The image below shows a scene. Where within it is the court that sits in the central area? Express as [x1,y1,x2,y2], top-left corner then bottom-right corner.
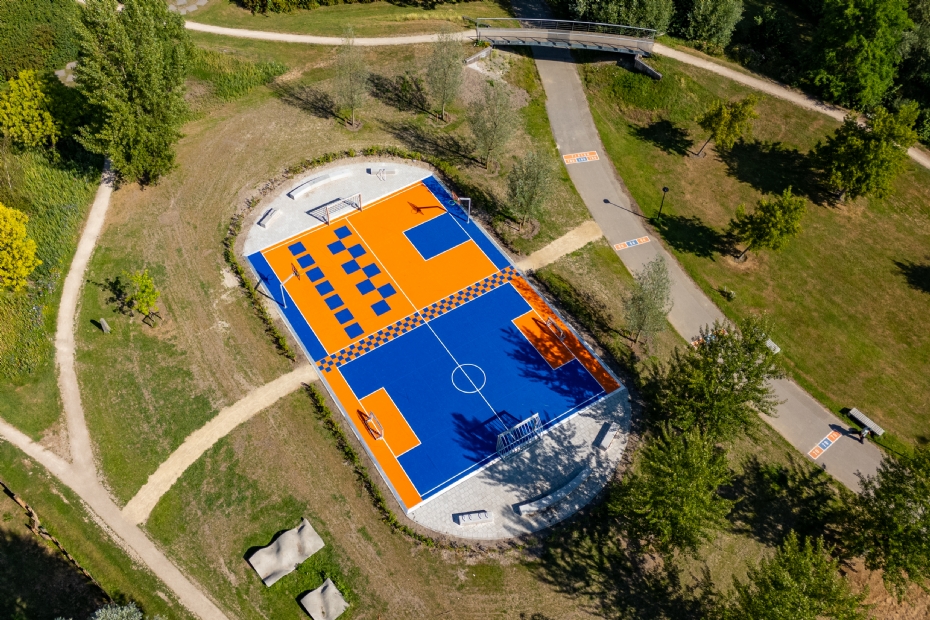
[242,162,630,536]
